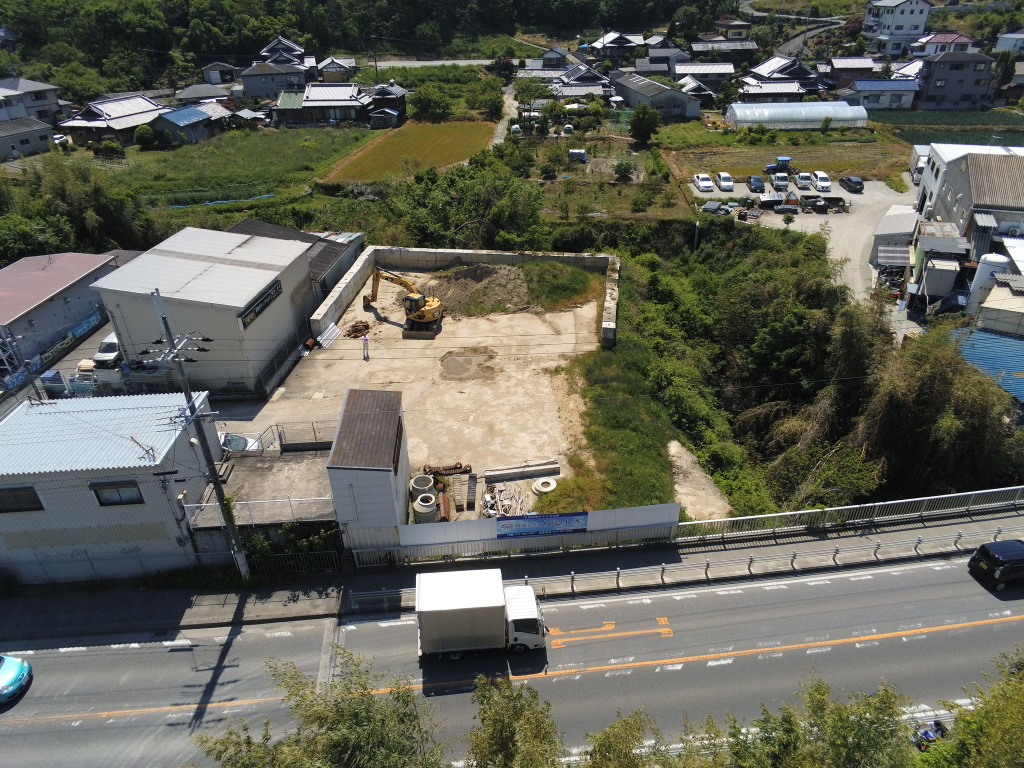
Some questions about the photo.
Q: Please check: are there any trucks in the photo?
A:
Yes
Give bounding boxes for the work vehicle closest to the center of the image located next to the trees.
[356,256,440,337]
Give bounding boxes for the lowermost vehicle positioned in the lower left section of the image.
[0,654,36,714]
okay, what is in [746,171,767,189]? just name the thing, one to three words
car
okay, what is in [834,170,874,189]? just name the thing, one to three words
car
